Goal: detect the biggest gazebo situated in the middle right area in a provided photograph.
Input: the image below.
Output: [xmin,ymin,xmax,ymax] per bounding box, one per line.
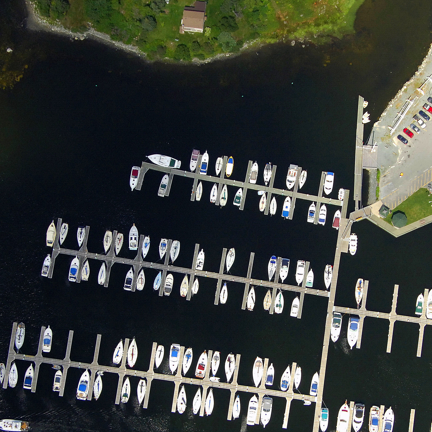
[391,212,406,228]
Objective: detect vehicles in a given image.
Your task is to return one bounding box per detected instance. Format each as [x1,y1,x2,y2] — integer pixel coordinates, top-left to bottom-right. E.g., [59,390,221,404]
[414,115,425,128]
[403,128,413,138]
[398,135,407,144]
[419,110,430,121]
[424,104,432,115]
[411,124,420,134]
